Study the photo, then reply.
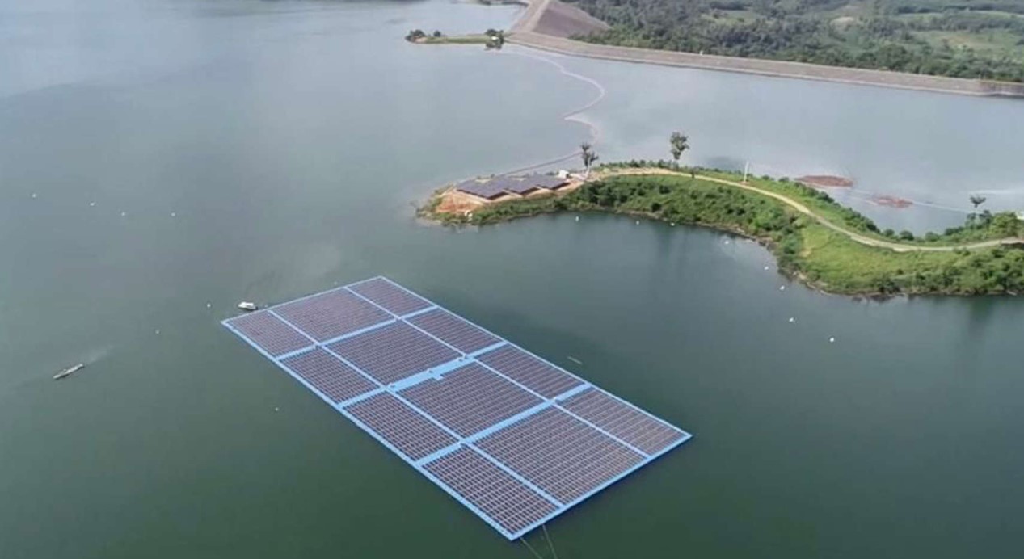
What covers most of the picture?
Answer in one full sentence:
The bulk of the photo consists of water.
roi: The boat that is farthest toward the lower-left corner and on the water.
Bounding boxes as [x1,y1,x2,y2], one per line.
[54,363,85,377]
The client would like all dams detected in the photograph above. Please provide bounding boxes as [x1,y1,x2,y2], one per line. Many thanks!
[510,0,1024,95]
